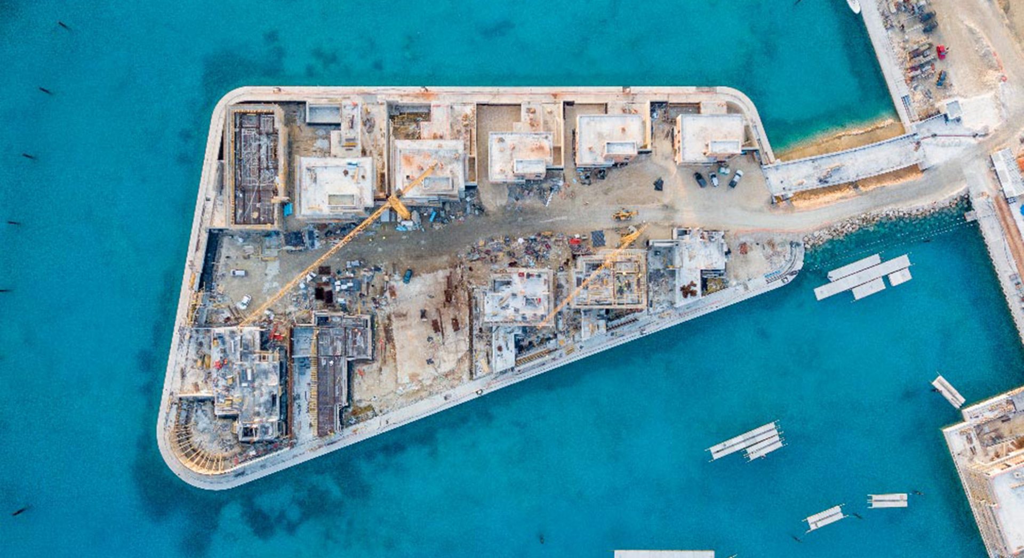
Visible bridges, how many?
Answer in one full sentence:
In total, there is 1 bridge in the scene.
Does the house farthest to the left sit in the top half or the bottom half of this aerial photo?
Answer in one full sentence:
The top half of the photo is where the house farthest to the left is.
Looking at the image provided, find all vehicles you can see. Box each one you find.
[237,293,251,310]
[231,269,246,276]
[922,19,940,32]
[937,42,948,59]
[936,68,951,87]
[920,9,938,22]
[693,171,708,189]
[728,168,744,188]
[709,172,718,187]
[403,268,412,284]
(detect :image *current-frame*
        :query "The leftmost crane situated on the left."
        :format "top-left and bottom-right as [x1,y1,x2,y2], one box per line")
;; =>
[238,161,437,329]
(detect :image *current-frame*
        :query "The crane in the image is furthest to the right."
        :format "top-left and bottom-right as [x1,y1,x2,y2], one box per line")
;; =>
[539,222,649,328]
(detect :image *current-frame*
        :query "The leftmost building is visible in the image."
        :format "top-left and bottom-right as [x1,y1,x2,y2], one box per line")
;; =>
[295,102,379,220]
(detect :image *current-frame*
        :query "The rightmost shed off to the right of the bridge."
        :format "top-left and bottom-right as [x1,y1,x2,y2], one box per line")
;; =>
[984,148,1024,199]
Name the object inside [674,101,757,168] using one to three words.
house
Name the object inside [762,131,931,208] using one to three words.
bridge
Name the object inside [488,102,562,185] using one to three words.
house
